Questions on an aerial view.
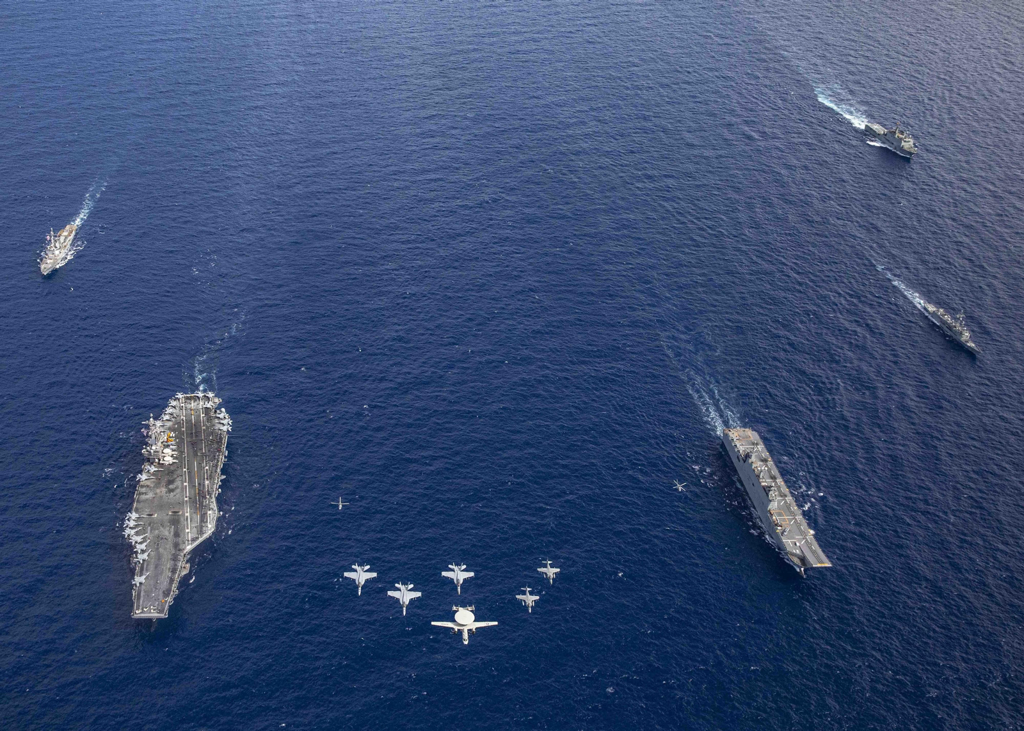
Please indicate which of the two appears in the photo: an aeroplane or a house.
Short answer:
aeroplane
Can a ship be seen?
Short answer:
Yes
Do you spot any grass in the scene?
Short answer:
No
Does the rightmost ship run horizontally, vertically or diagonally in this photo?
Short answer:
diagonally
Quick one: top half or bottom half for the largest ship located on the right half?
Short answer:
bottom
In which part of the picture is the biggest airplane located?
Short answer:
bottom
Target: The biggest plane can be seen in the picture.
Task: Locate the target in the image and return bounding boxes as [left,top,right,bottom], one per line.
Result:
[431,605,498,645]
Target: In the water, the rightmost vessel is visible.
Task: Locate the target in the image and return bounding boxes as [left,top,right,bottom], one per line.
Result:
[923,304,983,355]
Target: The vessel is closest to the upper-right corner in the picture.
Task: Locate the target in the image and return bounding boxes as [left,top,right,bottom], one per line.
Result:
[865,123,918,157]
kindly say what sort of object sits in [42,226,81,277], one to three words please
ship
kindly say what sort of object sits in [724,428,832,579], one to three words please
ship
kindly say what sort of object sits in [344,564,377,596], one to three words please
airplane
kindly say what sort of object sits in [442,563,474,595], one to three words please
airplane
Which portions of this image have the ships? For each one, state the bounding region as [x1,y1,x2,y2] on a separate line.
[923,304,983,355]
[42,226,81,277]
[130,395,240,623]
[724,428,832,579]
[865,123,918,157]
